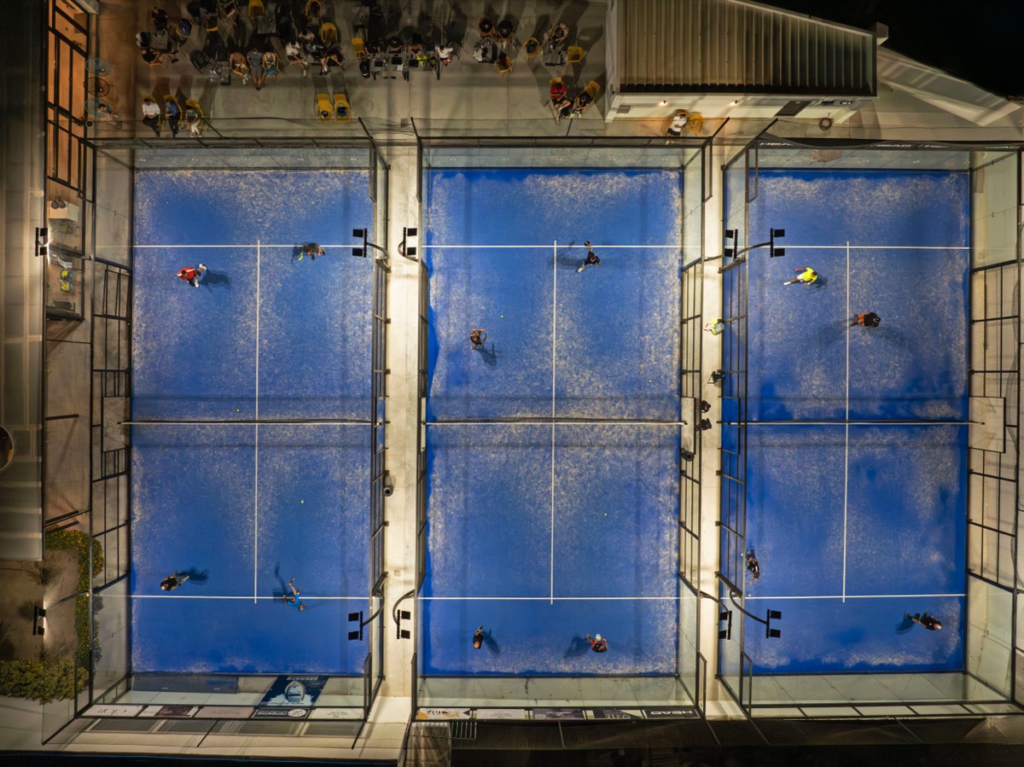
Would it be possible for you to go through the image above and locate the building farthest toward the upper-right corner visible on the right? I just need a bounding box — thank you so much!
[602,0,891,127]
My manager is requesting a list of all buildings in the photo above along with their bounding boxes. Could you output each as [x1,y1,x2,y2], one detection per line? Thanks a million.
[602,0,891,127]
[0,0,85,564]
